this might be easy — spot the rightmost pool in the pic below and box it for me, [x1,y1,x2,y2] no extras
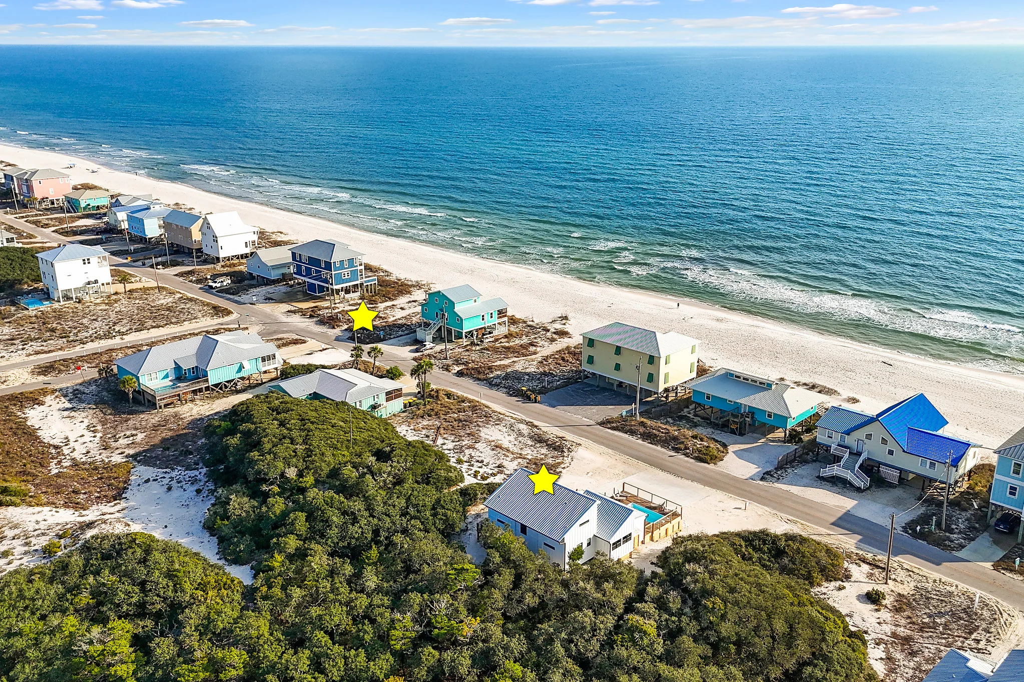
[625,502,661,523]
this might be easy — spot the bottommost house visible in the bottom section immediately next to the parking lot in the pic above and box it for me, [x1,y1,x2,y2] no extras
[484,462,683,568]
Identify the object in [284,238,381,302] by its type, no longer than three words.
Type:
house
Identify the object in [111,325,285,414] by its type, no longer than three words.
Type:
house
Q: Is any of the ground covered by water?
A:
Yes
